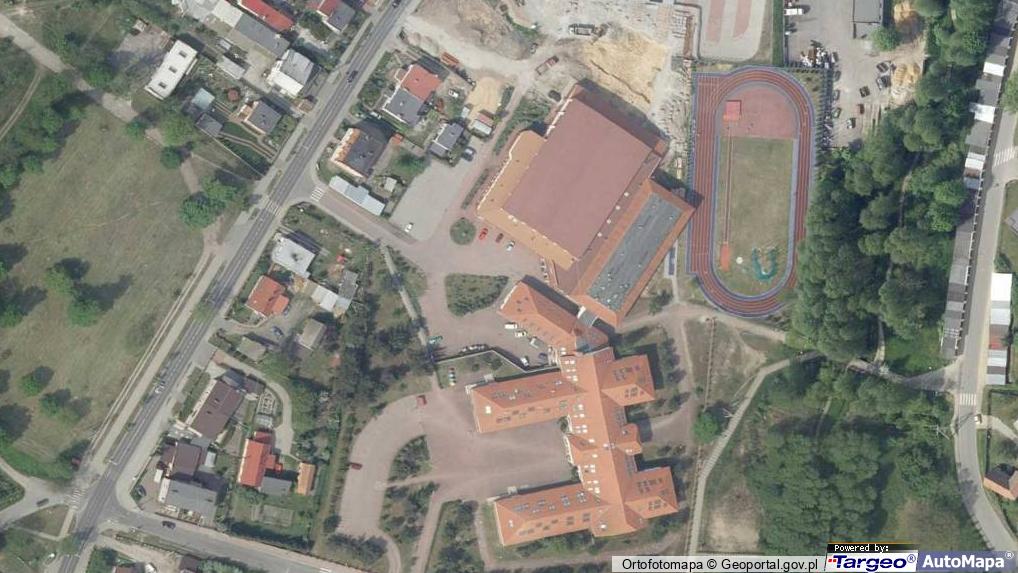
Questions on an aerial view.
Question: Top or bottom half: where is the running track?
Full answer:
The running track sits in the top half of the picture.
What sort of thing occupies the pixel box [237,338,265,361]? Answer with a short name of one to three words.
shed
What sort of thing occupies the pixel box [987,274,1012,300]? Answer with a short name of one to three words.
building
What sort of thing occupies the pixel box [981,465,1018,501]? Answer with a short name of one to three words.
house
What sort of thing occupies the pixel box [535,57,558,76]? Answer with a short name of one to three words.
vehicle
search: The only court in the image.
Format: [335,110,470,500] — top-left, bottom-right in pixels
[671,0,764,61]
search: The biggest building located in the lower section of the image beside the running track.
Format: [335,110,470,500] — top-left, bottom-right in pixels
[462,281,678,545]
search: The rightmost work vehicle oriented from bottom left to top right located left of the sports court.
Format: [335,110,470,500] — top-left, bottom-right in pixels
[588,24,606,40]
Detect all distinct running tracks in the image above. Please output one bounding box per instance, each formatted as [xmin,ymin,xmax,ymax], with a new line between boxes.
[686,66,814,316]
